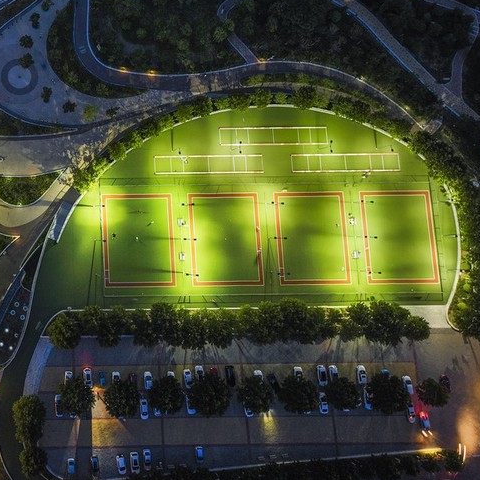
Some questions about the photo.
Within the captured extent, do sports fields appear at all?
Yes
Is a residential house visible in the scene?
No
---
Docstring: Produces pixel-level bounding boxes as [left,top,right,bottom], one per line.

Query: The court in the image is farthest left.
[102,194,176,287]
